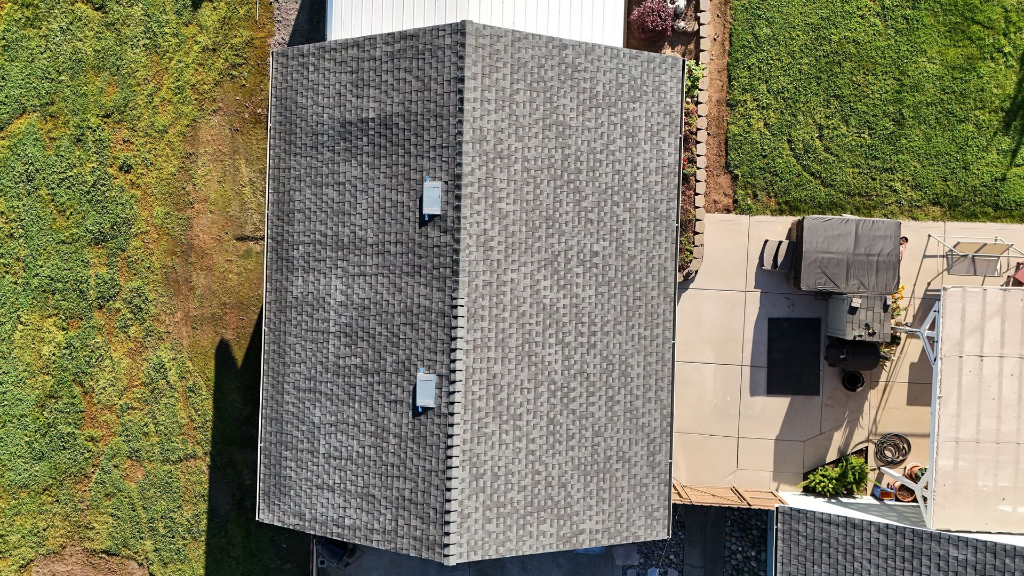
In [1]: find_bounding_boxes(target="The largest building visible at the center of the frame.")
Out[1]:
[252,18,690,567]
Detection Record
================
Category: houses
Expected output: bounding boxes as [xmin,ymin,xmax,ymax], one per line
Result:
[252,18,690,567]
[764,494,1024,576]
